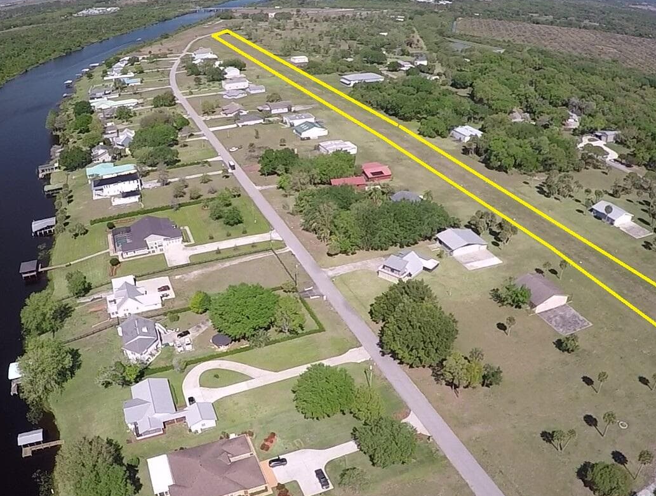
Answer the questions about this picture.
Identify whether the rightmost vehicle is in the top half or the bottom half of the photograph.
bottom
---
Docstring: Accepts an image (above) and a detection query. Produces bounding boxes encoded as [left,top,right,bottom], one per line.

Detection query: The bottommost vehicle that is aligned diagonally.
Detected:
[312,467,332,489]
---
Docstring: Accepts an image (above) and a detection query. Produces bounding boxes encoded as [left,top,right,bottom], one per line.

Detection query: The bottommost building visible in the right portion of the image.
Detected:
[508,274,570,318]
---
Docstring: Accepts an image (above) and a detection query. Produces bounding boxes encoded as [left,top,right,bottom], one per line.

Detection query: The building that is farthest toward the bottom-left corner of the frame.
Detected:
[17,428,45,452]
